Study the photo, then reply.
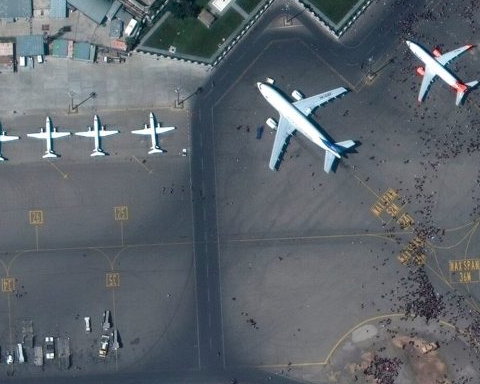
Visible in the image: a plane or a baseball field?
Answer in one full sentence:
I can see a plane in this picture.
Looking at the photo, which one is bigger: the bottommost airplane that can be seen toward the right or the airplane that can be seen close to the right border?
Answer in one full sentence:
The bottommost airplane that can be seen toward the right is larger than the airplane that can be seen close to the right border.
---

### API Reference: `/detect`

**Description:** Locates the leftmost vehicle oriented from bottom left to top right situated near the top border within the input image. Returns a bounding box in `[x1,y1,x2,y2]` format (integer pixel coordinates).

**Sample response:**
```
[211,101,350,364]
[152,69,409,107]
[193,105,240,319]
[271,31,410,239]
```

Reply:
[124,19,137,34]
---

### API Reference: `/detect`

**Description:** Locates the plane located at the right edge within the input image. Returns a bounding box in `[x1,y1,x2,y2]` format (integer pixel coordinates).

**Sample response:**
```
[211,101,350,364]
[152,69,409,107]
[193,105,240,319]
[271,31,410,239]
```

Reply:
[406,42,477,103]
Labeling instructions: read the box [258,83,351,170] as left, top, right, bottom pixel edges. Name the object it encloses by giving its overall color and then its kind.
white airplane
